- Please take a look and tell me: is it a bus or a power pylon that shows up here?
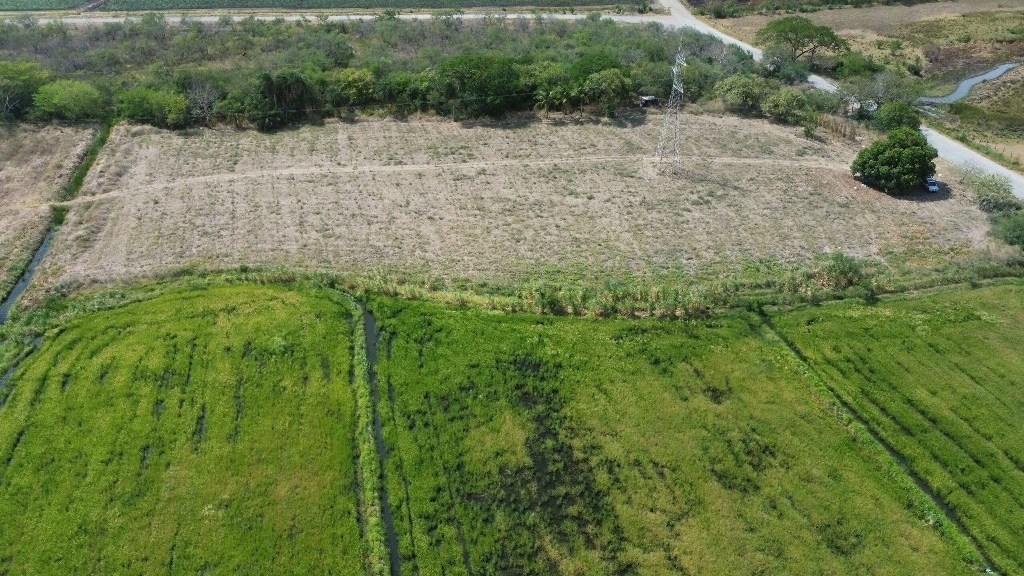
power pylon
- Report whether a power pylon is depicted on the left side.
No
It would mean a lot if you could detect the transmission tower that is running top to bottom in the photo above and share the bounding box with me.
[654,39,685,174]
